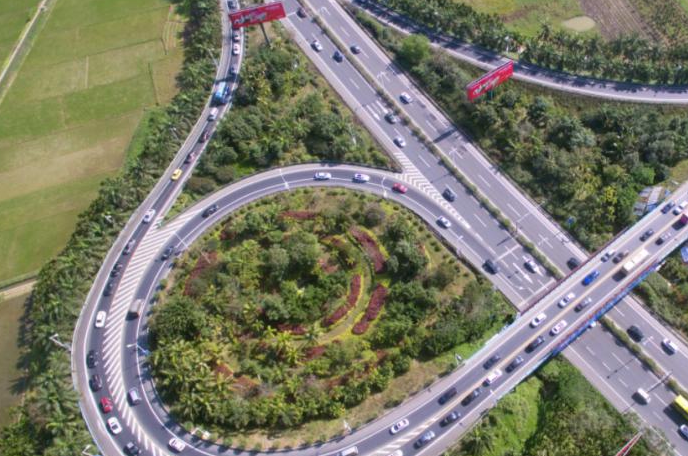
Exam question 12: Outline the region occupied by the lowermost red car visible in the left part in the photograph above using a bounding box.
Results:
[99,396,113,414]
